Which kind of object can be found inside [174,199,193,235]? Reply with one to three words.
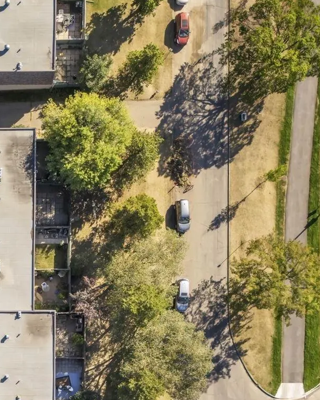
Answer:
car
